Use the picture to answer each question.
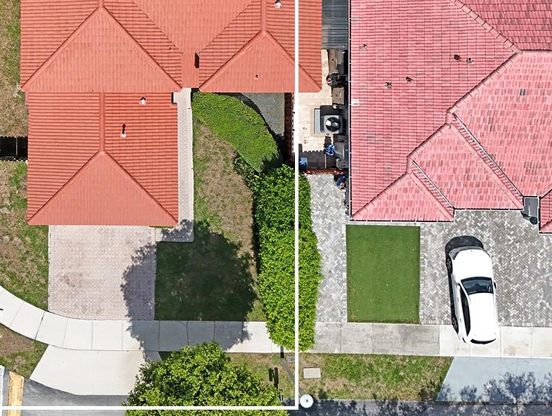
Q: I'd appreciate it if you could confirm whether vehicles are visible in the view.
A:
Yes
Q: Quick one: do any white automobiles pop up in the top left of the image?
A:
No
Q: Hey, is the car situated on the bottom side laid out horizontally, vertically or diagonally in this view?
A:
vertically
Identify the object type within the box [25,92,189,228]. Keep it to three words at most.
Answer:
building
